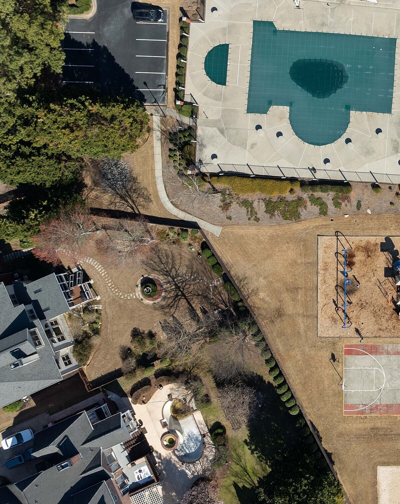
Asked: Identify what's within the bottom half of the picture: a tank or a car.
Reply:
car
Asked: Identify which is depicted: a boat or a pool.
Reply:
pool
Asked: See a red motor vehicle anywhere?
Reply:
No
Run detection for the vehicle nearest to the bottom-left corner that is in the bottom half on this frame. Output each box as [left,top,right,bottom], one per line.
[1,449,35,471]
